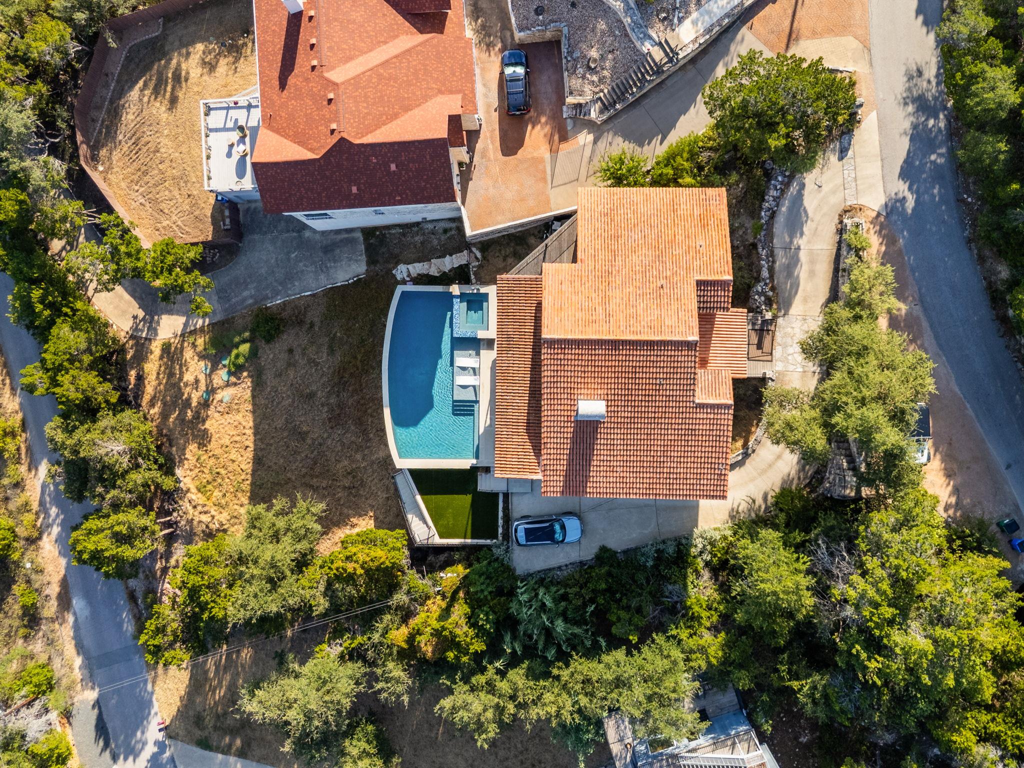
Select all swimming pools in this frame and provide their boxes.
[382,284,495,468]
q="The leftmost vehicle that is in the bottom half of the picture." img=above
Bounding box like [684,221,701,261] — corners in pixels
[515,513,583,548]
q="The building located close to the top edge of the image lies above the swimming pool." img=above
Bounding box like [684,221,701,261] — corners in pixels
[252,0,479,233]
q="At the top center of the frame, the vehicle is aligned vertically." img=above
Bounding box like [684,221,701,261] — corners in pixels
[497,49,531,122]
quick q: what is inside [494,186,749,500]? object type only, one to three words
house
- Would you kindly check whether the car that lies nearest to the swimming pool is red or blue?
blue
